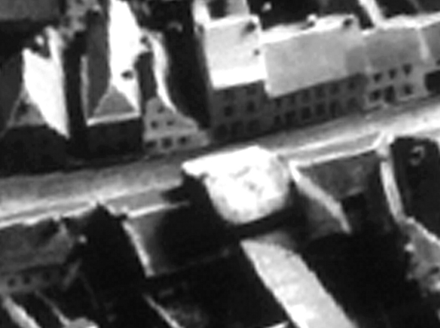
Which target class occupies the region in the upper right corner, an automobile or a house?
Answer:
house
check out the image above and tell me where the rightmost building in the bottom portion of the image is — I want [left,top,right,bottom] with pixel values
[385,139,440,261]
